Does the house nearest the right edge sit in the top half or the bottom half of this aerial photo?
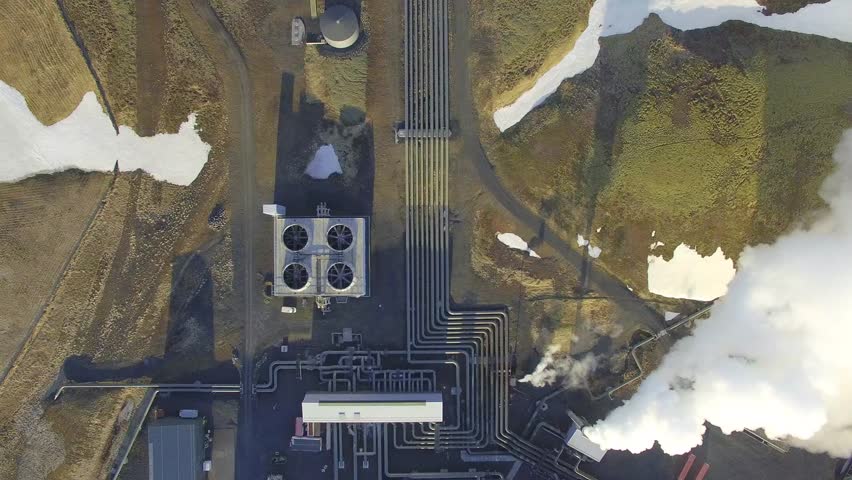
bottom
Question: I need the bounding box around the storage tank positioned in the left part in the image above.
[305,4,362,47]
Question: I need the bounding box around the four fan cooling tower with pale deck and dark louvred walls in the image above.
[272,201,370,312]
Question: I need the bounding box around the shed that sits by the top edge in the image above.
[290,16,305,44]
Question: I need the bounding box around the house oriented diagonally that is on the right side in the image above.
[563,421,609,463]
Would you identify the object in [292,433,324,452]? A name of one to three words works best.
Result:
building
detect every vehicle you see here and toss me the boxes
[280,306,297,314]
[267,473,283,480]
[180,408,200,418]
